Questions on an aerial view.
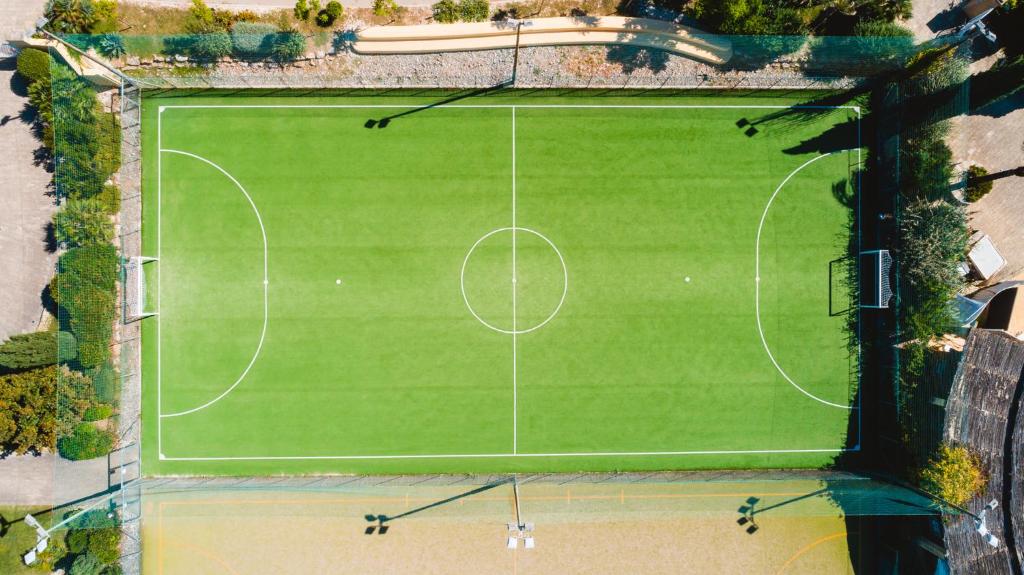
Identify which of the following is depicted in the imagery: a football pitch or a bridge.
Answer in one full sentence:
Visible in the photo is a football pitch.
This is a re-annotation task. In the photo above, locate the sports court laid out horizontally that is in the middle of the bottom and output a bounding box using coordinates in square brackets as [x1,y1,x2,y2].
[141,479,878,575]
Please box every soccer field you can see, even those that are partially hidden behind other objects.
[141,87,877,475]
